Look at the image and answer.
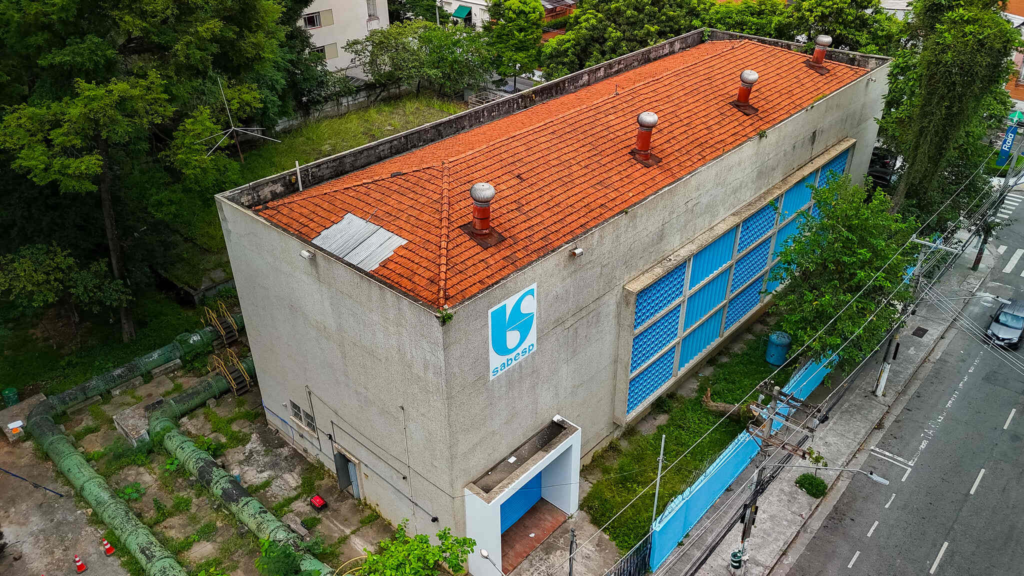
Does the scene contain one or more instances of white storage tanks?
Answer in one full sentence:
No, the photo shows no white storage tank.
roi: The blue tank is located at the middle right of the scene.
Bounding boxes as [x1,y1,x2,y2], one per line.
[766,326,795,368]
